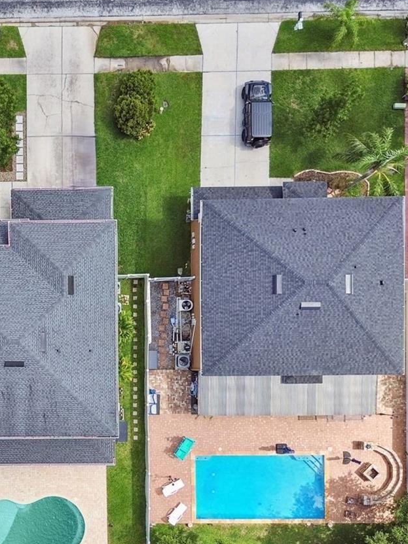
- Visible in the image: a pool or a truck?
pool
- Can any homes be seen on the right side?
Yes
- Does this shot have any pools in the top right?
No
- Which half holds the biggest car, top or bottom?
top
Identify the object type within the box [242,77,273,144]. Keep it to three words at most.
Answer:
car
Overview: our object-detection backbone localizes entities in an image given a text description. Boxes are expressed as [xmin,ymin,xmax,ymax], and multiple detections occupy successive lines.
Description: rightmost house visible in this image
[189,180,407,384]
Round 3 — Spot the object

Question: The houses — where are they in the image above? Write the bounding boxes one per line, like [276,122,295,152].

[189,180,407,384]
[0,185,120,467]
